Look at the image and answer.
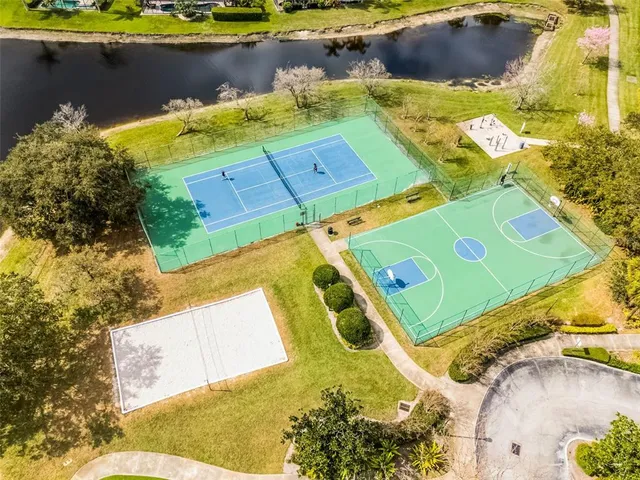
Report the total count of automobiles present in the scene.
0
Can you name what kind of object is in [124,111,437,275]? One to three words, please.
tennis court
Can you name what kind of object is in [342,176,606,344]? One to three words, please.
basketball court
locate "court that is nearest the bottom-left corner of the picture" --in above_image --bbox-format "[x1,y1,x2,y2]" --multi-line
[110,287,289,414]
